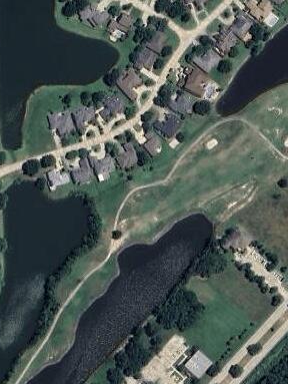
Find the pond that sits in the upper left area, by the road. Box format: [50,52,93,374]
[0,0,119,149]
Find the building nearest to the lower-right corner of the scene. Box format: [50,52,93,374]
[185,350,213,378]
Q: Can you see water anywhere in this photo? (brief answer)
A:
Yes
